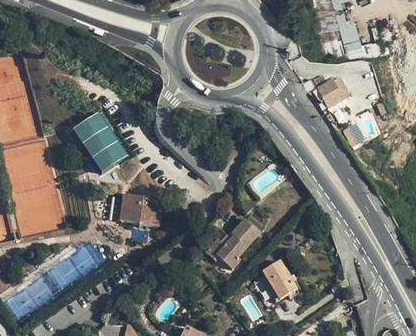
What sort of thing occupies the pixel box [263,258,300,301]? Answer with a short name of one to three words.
house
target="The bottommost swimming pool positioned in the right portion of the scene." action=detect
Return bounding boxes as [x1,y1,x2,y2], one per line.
[238,295,262,316]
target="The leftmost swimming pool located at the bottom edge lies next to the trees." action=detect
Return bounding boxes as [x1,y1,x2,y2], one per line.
[156,298,178,322]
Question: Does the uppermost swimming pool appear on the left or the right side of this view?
right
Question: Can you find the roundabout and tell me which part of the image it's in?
top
